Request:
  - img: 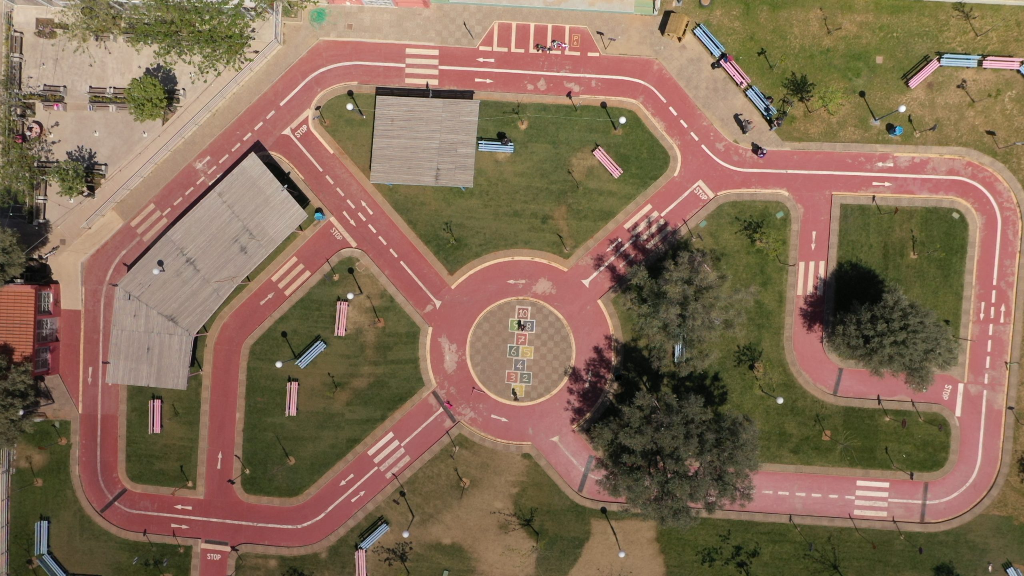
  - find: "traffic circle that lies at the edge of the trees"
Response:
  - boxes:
[428,258,614,444]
